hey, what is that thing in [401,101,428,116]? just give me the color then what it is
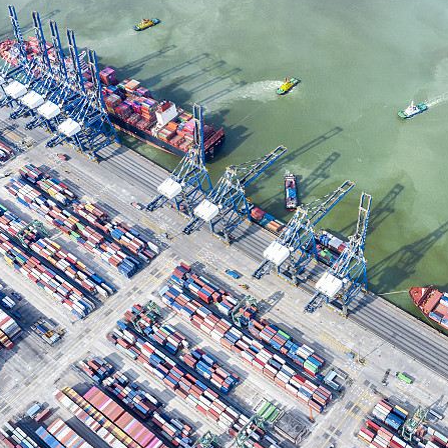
white boat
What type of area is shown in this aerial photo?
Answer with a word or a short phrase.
port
